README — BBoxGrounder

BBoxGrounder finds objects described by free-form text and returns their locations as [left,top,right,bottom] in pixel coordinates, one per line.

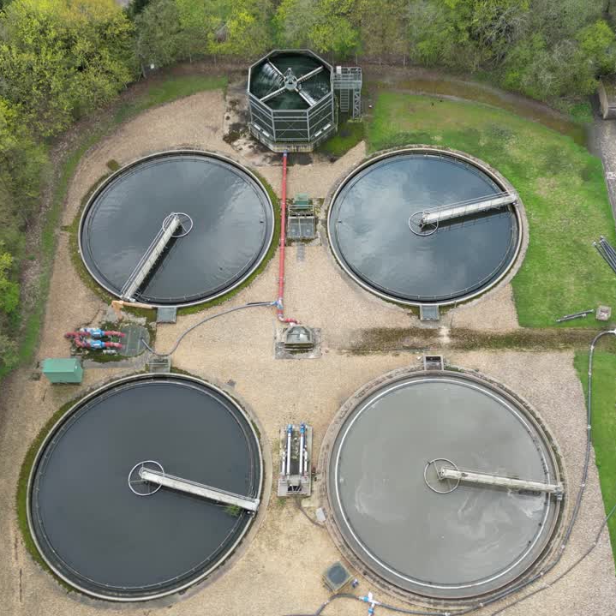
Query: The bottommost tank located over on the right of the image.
[325,352,570,602]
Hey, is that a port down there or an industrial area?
industrial area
